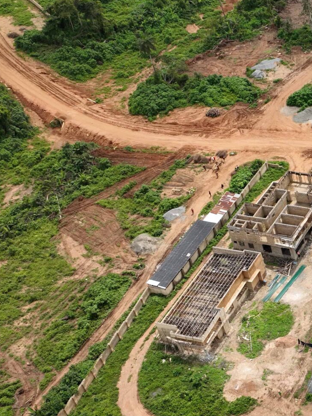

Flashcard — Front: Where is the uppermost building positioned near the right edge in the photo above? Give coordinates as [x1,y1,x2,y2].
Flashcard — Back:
[227,170,312,260]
